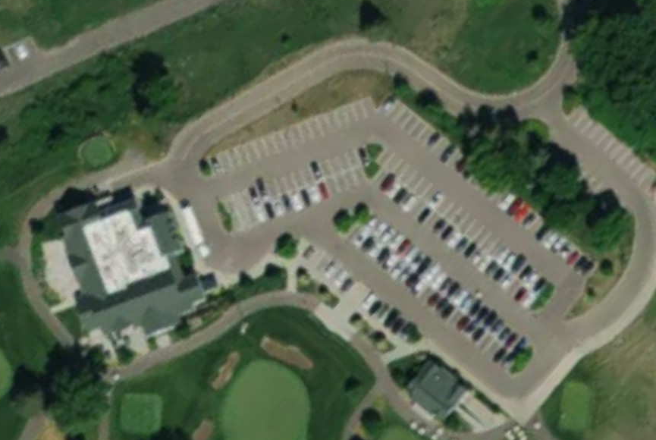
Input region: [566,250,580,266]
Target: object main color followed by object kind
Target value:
red car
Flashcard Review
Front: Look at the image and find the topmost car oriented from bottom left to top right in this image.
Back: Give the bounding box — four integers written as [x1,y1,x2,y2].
[383,98,397,115]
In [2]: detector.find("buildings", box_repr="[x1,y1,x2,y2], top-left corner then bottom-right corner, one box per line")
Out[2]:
[60,198,217,337]
[408,357,470,420]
